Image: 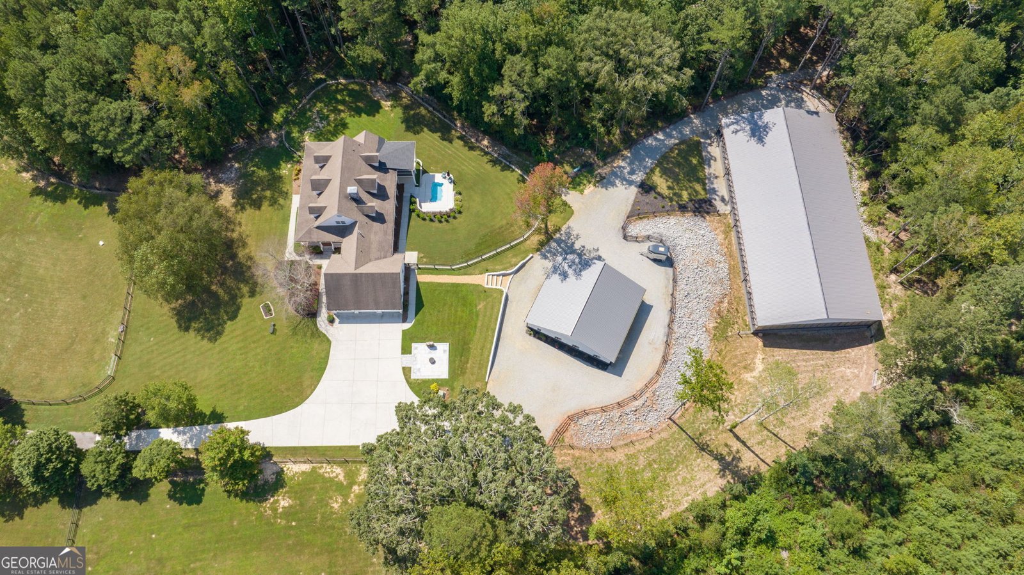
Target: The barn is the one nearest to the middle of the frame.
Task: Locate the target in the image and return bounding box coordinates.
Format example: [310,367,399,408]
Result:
[526,252,645,362]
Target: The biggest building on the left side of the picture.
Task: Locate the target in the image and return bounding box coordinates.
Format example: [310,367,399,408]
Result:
[294,130,417,314]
